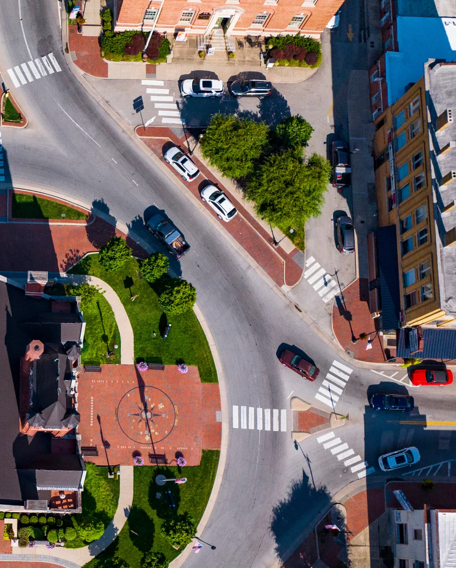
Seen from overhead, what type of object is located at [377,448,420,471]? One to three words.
car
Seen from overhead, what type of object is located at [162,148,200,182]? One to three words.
car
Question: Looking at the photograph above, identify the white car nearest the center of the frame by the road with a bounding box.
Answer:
[199,190,238,222]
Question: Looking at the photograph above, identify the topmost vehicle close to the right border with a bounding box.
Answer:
[409,368,452,387]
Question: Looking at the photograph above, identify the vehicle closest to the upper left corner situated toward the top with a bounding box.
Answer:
[179,78,224,99]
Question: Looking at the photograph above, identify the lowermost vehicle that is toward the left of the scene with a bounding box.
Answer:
[146,216,192,259]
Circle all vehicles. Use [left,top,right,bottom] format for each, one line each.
[162,148,200,182]
[409,368,452,387]
[277,350,320,383]
[335,216,357,253]
[146,216,192,259]
[328,9,345,31]
[377,448,420,471]
[331,142,353,188]
[179,78,224,99]
[199,190,238,222]
[229,77,273,99]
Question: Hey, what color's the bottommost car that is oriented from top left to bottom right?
red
